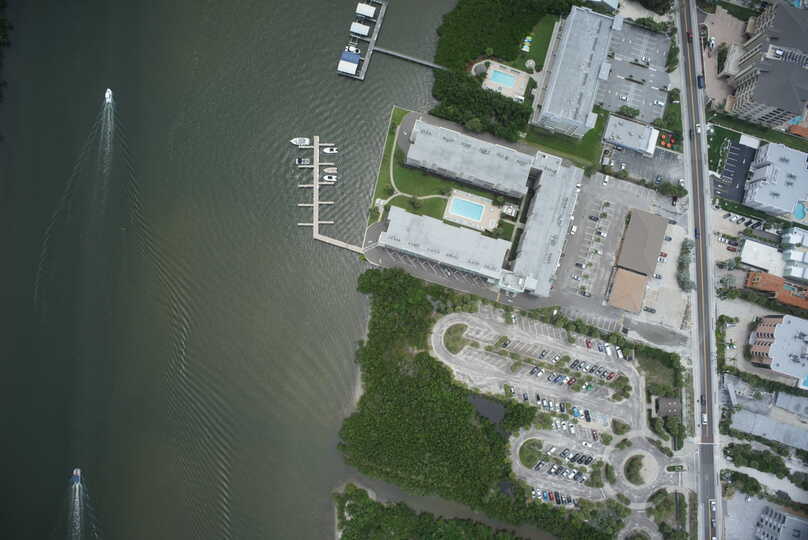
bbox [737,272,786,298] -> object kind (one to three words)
house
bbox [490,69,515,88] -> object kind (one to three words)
swimming pool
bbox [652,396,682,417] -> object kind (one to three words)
building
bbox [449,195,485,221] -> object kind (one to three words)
swimming pool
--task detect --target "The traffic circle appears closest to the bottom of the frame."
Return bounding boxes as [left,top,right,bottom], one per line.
[614,516,658,540]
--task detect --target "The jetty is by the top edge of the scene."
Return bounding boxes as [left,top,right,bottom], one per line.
[336,0,447,81]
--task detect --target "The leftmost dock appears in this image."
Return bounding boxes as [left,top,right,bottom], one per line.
[298,135,363,253]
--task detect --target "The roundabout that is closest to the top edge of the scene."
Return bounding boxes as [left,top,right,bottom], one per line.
[612,438,671,501]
